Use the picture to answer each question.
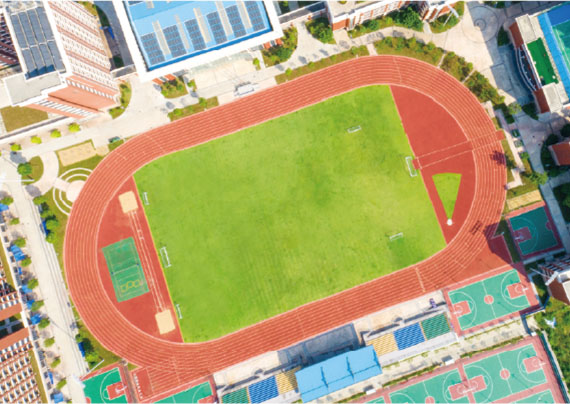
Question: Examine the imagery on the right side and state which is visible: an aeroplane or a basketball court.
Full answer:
The one visible on the right side is a basketball court.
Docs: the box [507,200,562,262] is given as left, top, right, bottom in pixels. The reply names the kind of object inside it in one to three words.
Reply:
basketball court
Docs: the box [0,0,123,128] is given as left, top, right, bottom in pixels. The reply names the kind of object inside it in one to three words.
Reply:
building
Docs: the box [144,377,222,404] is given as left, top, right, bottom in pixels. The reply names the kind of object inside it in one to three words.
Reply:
basketball court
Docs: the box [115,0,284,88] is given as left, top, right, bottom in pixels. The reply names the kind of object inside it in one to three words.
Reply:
building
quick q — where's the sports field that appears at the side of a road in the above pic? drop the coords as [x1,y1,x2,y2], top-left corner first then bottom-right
[134,85,446,343]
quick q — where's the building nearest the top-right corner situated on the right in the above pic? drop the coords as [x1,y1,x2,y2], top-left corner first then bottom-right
[502,0,570,111]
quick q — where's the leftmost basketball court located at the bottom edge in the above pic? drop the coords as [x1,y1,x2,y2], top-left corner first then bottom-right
[81,364,135,404]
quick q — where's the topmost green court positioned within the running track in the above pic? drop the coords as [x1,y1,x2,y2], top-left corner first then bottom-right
[102,238,149,302]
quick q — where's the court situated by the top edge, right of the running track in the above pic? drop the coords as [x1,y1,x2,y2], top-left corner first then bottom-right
[538,2,570,122]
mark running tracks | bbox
[64,53,517,402]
